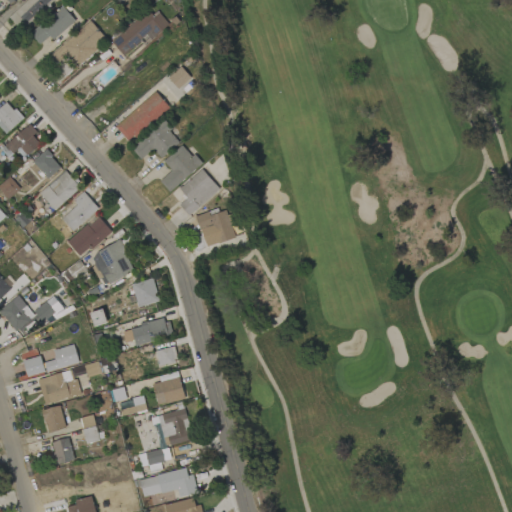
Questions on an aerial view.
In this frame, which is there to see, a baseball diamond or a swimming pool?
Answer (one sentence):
I can see a swimming pool in this picture.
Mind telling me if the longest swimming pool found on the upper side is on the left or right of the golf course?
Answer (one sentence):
It is on the left side of the golf course that the longest swimming pool found on the upper side is positioned.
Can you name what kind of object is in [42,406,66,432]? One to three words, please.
house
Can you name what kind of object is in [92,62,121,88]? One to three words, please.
swimming pool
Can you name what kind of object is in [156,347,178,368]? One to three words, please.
house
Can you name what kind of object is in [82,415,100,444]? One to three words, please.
shed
